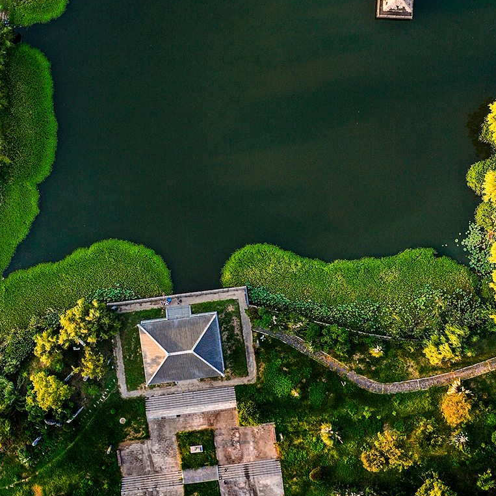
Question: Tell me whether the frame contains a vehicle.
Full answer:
No, I can't see a single vehicle in this photo.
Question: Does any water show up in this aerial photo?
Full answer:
Yes, there is water in the image.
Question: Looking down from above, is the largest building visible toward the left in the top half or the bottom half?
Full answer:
The largest building visible toward the left is in the bottom half of the image.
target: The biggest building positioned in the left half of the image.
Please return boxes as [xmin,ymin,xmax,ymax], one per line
[136,303,226,389]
